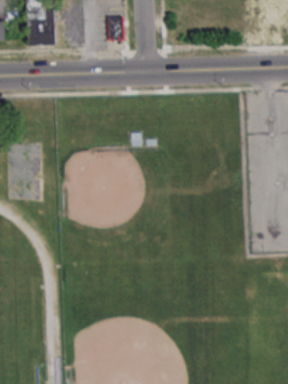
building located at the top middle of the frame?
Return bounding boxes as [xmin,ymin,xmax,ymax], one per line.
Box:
[106,15,126,40]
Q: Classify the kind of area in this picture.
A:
sports ground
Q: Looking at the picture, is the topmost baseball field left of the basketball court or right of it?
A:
on the right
